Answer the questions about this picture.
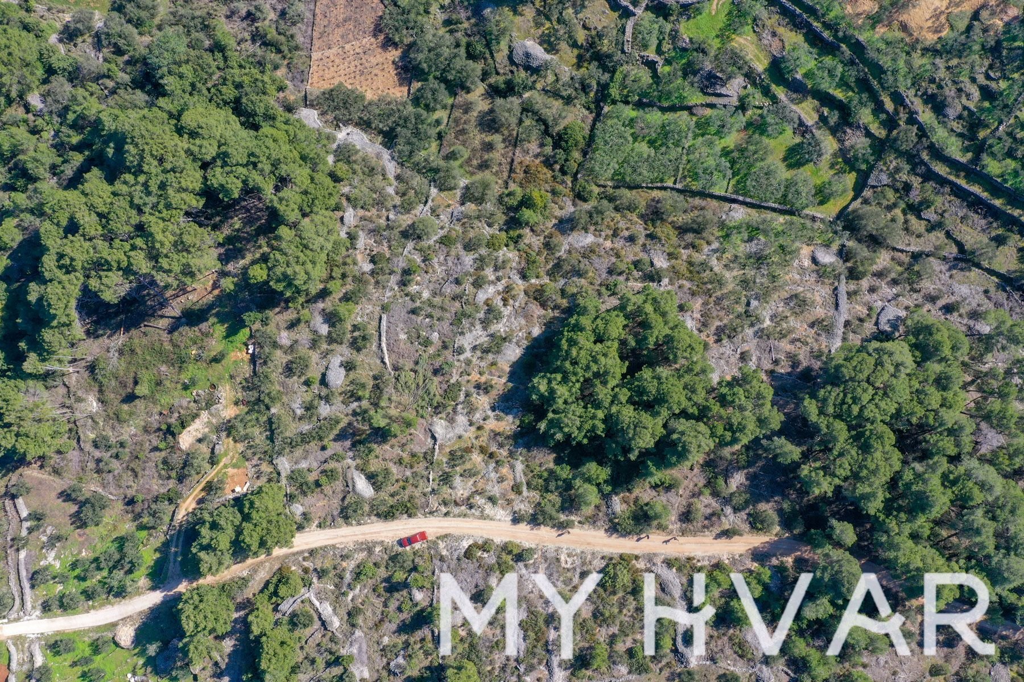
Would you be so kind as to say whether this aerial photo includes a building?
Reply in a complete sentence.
No, this view has no building in it.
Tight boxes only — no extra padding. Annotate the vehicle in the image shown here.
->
[400,532,428,549]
